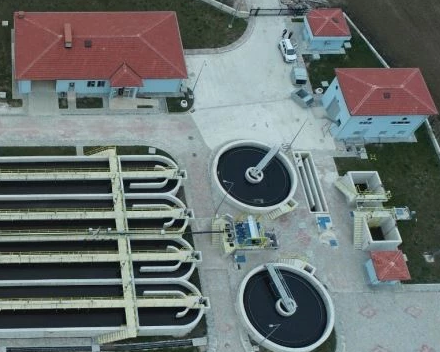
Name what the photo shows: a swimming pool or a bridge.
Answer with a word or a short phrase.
bridge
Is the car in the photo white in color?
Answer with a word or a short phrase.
Yes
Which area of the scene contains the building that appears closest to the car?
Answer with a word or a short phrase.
top right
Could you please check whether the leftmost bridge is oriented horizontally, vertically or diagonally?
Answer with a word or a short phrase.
vertically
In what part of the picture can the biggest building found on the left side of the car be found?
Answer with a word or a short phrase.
top left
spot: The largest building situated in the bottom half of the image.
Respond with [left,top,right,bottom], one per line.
[206,212,281,258]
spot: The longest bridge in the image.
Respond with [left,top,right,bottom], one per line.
[106,142,139,338]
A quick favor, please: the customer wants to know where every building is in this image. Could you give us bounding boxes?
[206,212,281,258]
[363,250,413,286]
[303,9,352,53]
[13,11,188,106]
[320,67,440,144]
